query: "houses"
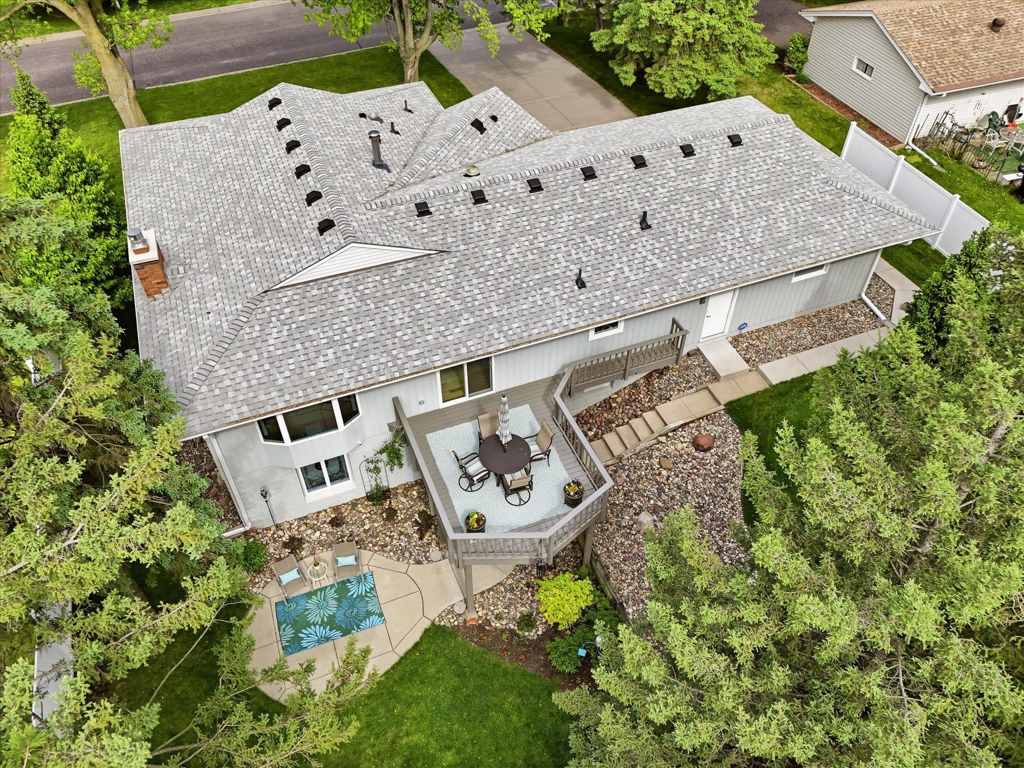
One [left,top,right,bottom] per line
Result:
[786,0,1024,167]
[115,80,944,543]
